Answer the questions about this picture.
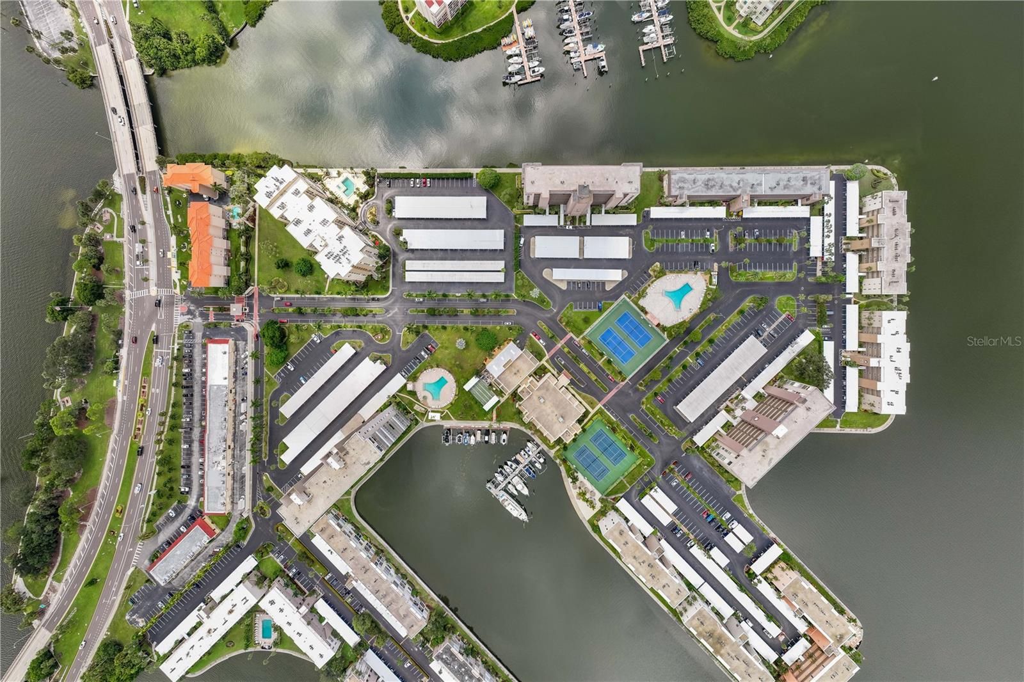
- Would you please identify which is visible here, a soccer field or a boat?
boat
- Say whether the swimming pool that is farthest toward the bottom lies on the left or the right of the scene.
left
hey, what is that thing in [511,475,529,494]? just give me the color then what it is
white boat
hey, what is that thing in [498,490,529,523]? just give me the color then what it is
white boat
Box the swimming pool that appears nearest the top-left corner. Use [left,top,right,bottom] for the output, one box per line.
[225,205,243,223]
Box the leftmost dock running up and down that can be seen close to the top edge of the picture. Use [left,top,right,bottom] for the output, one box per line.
[513,7,541,85]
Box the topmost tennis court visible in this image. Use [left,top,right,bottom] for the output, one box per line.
[584,298,667,377]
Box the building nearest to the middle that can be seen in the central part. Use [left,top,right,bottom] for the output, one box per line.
[487,341,539,396]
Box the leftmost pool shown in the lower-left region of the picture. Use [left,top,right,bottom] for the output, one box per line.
[254,612,280,645]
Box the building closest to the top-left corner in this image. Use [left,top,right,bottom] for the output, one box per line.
[163,162,226,193]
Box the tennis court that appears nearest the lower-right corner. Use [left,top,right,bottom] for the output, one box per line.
[563,419,638,494]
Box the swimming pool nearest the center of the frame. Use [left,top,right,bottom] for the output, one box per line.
[416,367,456,408]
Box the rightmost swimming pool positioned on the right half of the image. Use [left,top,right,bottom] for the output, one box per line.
[640,272,707,325]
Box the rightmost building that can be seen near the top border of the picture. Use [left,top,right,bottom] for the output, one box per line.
[728,0,781,38]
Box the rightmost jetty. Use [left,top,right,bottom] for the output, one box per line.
[639,0,674,66]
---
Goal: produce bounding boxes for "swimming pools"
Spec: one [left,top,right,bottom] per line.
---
[416,367,456,408]
[325,172,368,204]
[225,205,243,223]
[254,612,280,645]
[640,272,707,325]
